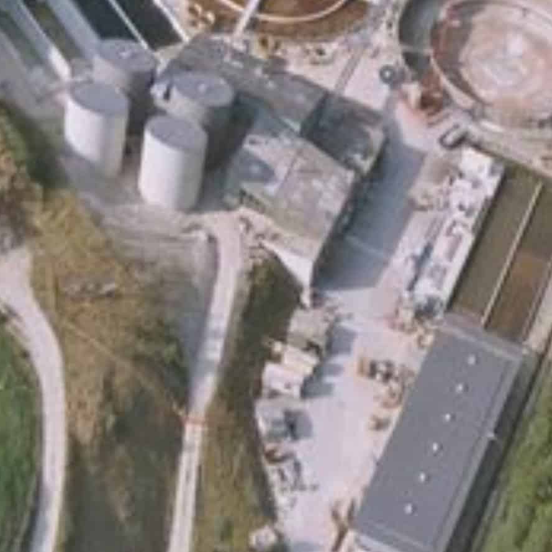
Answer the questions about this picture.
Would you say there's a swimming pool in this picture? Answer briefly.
No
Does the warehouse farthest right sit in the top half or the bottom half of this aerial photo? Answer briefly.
bottom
